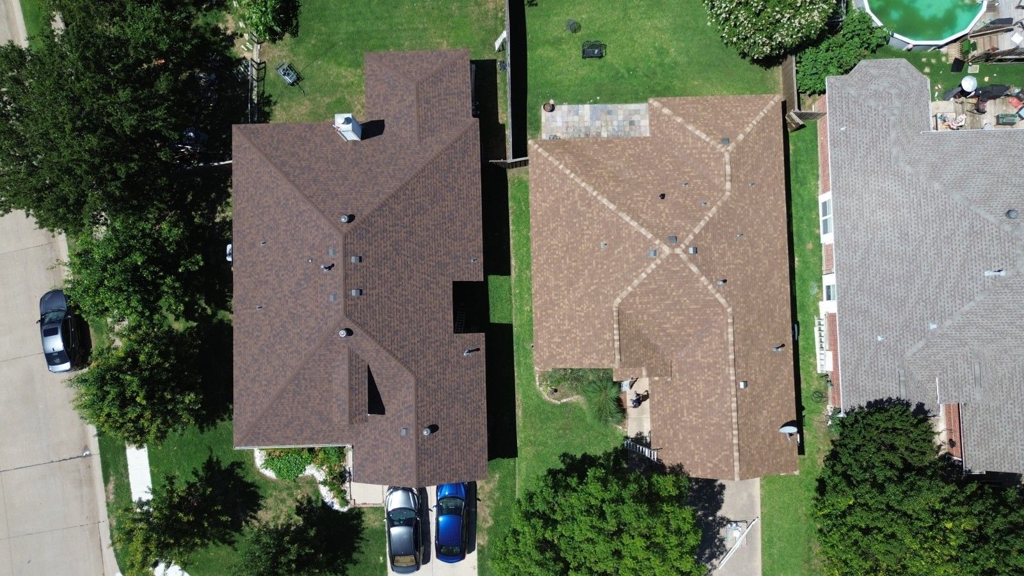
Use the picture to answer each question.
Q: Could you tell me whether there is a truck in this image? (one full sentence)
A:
No, there isn't any truck down there.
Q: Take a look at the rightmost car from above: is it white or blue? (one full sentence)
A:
The rightmost car is blue.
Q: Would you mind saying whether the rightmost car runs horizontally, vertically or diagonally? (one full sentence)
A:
From this overhead view, the rightmost car appears to run vertically.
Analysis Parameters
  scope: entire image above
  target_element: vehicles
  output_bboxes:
[381,488,422,576]
[433,483,471,567]
[34,289,85,375]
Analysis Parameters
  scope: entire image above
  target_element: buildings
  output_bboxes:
[527,93,798,480]
[231,47,487,487]
[819,59,1024,478]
